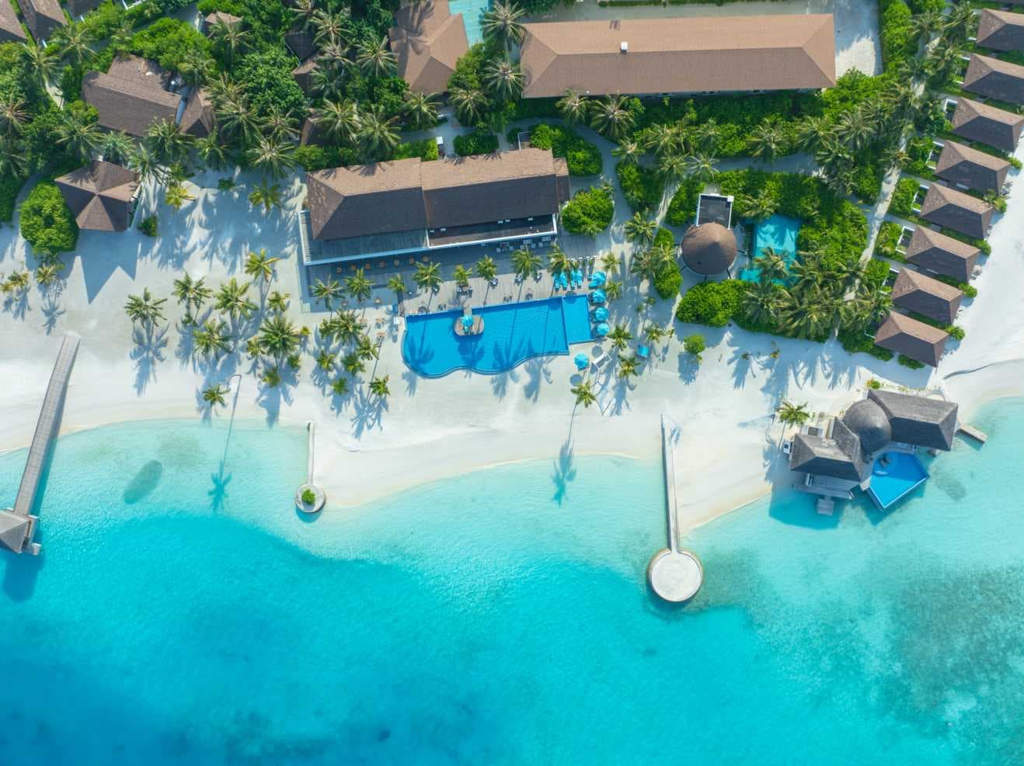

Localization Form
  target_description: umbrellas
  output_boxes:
[570,269,582,281]
[555,271,567,283]
[592,289,606,303]
[592,270,606,284]
[574,354,588,369]
[595,307,608,321]
[462,315,473,327]
[597,323,609,335]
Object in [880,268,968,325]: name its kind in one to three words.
house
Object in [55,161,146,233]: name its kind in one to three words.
shed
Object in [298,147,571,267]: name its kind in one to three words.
building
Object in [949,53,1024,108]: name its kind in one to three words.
house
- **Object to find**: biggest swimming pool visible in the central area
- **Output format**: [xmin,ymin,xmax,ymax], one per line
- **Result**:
[397,295,590,382]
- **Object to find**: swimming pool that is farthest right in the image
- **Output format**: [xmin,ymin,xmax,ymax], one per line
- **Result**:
[739,213,799,288]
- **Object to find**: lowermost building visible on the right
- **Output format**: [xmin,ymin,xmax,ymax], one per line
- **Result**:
[782,384,959,515]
